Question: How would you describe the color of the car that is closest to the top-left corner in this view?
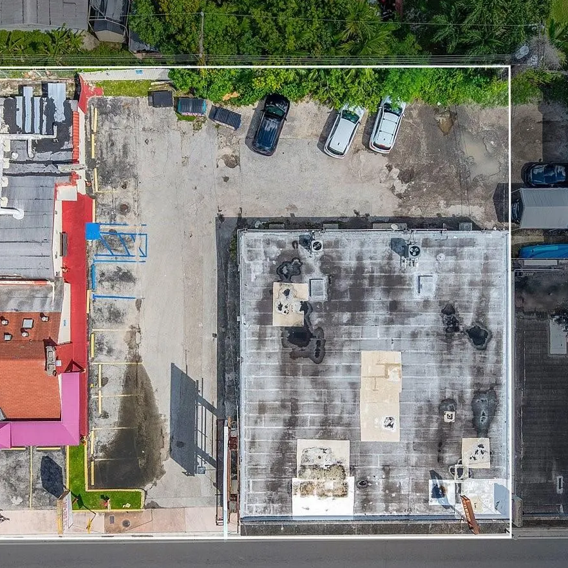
black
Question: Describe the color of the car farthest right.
black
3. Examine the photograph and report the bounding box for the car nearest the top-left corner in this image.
[254,99,290,160]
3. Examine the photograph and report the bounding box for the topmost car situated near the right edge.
[521,159,568,188]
